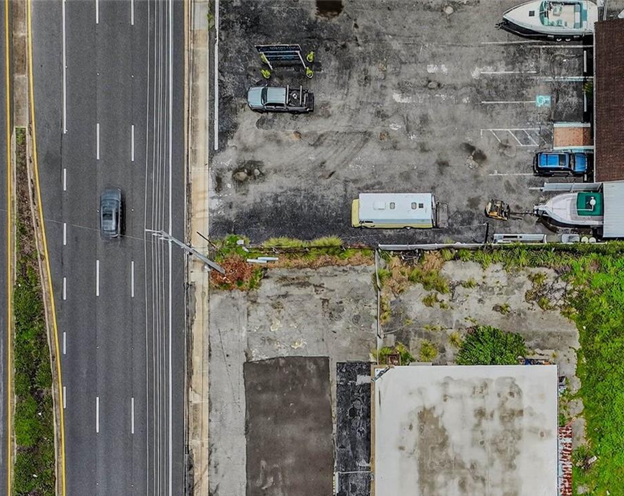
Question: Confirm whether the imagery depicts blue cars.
Yes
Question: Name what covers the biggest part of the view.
paved ground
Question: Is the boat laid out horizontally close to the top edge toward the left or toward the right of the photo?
right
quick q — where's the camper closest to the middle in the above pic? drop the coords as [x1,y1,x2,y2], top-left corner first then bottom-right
[353,193,435,227]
